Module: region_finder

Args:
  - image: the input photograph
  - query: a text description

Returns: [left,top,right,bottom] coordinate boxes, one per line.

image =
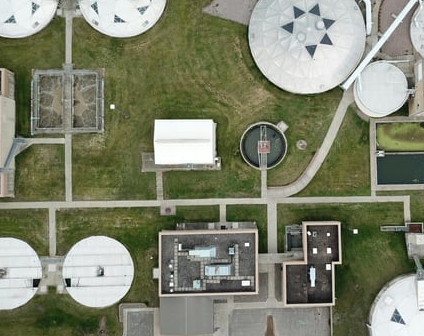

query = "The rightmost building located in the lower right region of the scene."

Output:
[281,219,341,307]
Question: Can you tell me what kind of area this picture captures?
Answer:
industrial area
